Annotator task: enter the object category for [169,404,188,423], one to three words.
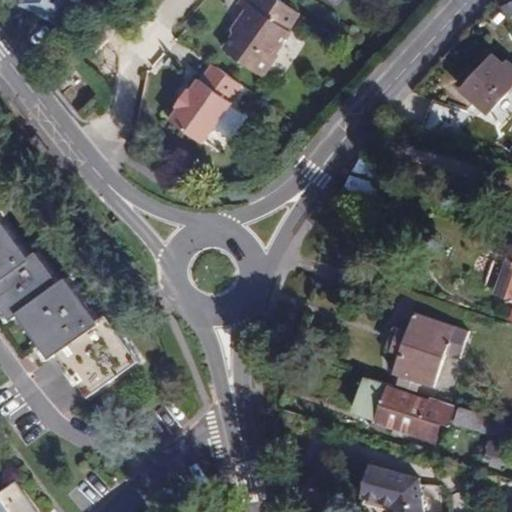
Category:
car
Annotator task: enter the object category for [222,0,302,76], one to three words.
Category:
house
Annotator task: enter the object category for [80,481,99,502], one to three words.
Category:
car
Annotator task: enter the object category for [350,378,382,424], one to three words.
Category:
building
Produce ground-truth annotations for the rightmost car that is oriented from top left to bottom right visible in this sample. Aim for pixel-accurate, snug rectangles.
[226,238,244,260]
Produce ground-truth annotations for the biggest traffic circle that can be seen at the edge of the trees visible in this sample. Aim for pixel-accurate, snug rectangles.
[137,192,303,392]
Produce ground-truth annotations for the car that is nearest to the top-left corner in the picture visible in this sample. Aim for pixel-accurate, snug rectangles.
[29,28,48,46]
